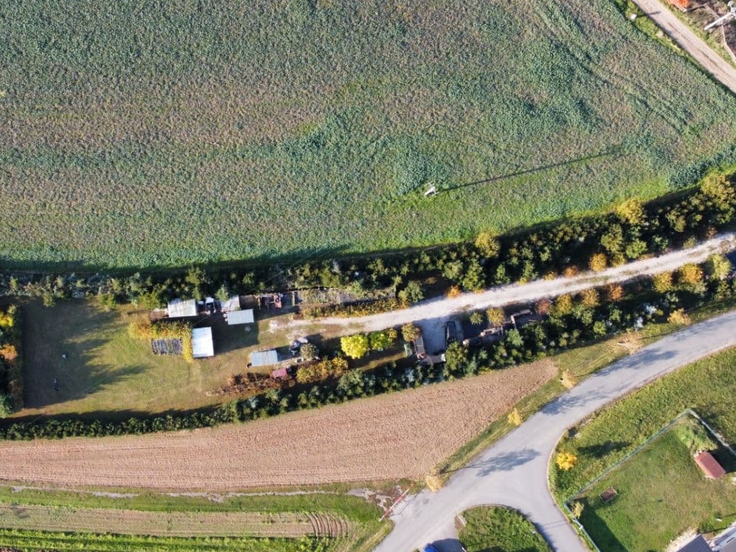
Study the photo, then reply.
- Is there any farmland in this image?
Yes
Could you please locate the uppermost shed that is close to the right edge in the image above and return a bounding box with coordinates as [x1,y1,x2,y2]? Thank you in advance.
[690,451,719,481]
